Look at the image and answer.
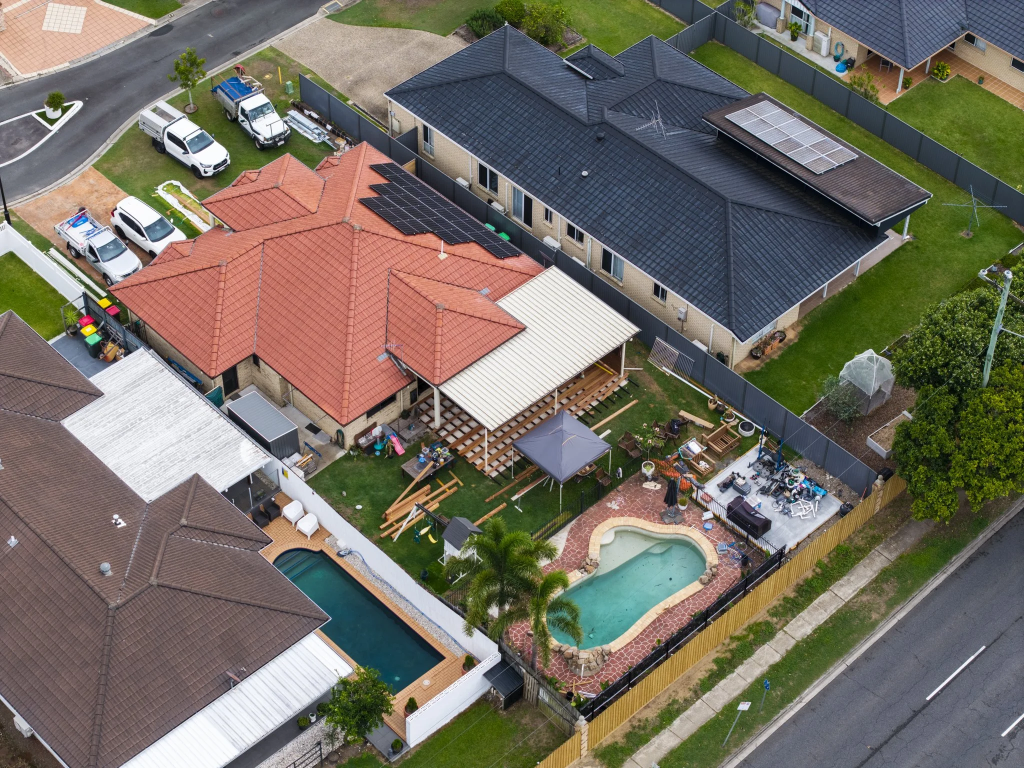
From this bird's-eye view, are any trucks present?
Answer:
Yes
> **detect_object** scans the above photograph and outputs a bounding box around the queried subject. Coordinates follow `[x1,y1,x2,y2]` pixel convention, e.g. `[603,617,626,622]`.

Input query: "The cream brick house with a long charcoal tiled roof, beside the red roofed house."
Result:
[380,23,888,370]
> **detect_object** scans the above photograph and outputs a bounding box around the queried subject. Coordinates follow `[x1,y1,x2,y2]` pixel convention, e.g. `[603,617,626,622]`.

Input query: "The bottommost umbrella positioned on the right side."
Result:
[651,472,691,530]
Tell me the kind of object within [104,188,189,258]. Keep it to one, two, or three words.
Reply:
car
